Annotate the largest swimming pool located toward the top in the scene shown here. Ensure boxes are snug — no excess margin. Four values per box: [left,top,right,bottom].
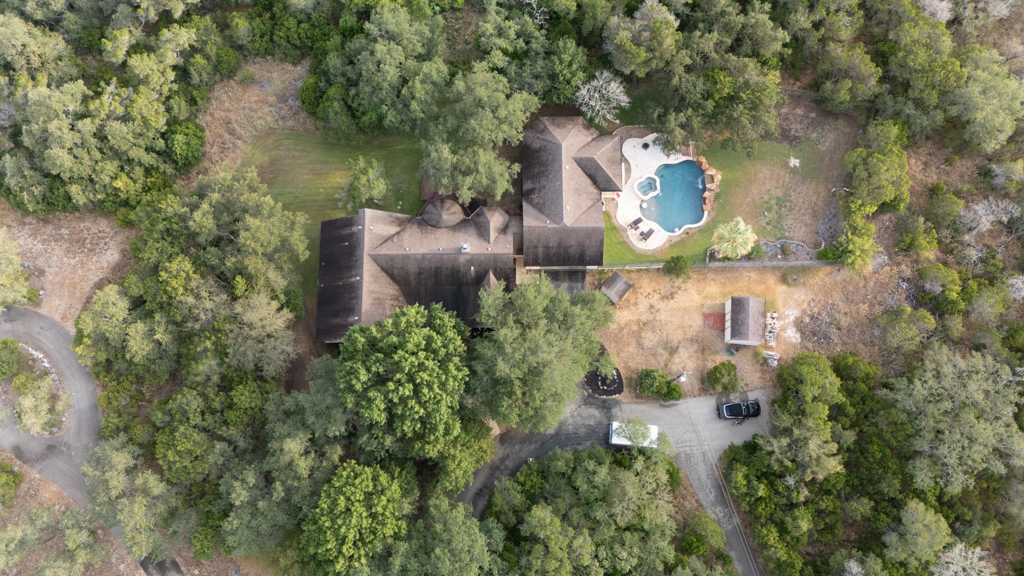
[636,156,709,236]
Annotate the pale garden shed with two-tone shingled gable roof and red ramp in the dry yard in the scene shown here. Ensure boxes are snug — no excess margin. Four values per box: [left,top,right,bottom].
[725,295,767,344]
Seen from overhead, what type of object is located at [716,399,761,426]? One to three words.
car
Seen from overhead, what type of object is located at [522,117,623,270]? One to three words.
house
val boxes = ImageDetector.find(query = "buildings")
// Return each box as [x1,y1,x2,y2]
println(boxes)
[314,195,514,343]
[601,272,632,305]
[725,295,767,344]
[522,117,623,270]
